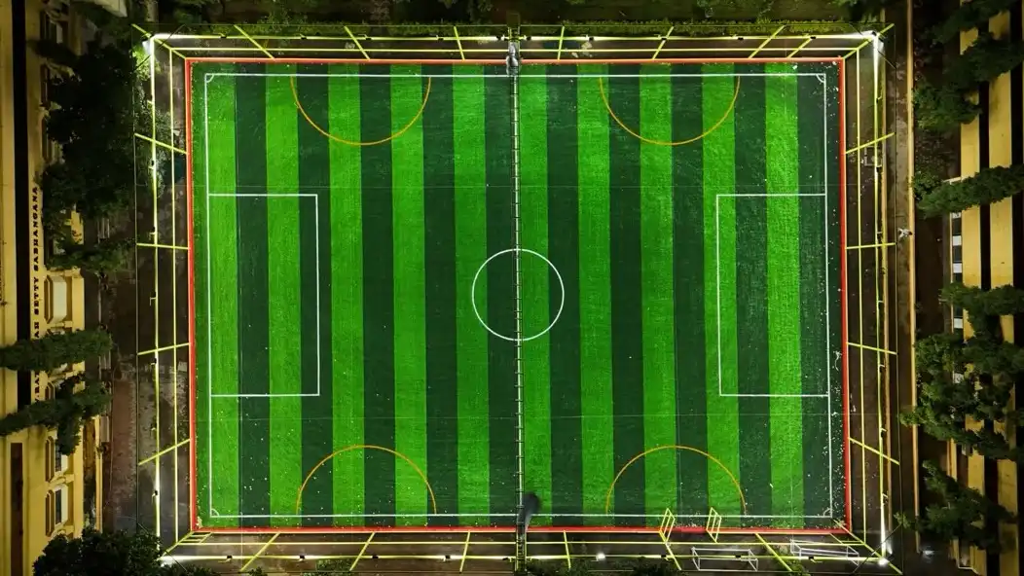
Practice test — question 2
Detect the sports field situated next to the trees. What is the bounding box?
[192,63,844,527]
